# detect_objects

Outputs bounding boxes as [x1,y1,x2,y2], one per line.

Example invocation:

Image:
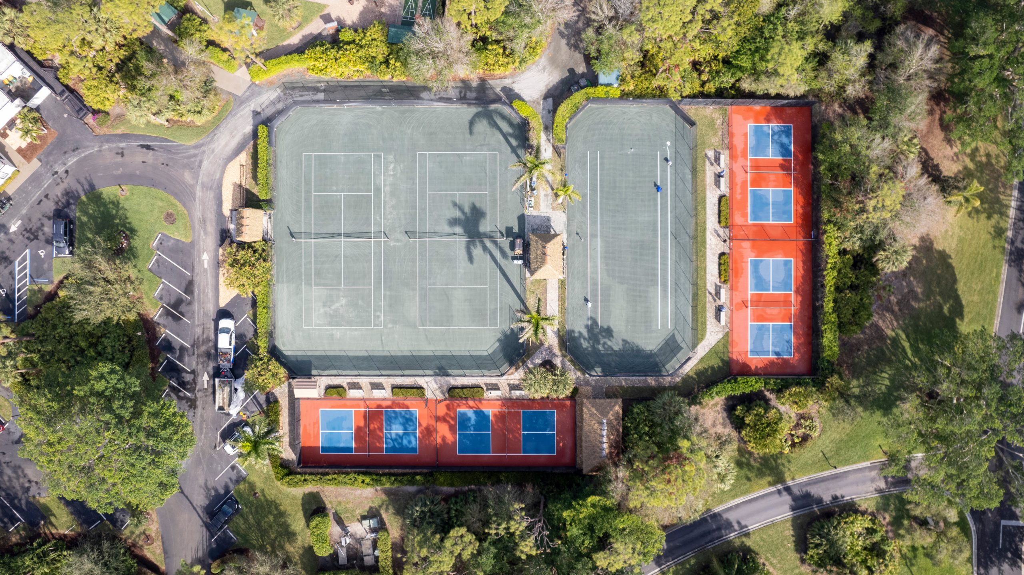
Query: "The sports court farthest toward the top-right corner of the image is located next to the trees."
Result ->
[730,106,812,240]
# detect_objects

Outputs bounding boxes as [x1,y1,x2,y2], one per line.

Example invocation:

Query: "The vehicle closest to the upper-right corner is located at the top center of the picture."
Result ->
[570,74,594,93]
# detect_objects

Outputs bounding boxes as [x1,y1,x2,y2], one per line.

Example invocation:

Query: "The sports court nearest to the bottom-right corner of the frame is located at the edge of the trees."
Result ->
[730,240,812,375]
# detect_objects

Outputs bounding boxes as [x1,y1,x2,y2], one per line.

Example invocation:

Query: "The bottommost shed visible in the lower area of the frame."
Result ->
[581,397,624,476]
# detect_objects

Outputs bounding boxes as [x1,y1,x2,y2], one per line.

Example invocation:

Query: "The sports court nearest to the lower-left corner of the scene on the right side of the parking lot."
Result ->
[300,399,436,466]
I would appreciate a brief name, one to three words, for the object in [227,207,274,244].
shed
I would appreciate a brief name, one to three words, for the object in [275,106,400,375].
tennis court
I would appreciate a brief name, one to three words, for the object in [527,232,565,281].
shed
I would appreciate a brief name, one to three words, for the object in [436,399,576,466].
sports court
